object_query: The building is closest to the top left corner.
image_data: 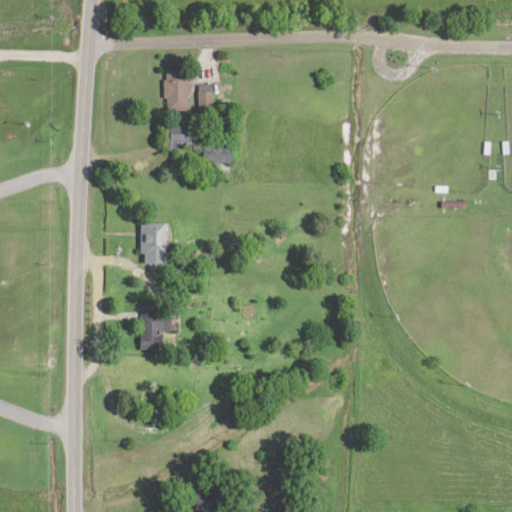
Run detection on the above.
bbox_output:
[164,73,192,111]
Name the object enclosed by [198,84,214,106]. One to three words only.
building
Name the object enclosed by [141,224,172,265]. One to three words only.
house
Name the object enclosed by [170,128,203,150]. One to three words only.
house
